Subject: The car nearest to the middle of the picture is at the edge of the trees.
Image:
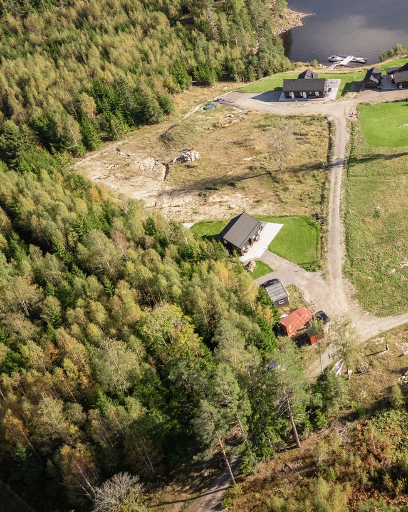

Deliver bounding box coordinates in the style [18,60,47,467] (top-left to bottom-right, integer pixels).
[260,275,282,288]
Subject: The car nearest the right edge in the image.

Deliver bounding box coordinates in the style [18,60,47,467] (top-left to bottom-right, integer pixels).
[315,306,328,324]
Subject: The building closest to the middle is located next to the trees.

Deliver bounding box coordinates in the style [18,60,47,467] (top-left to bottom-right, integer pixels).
[207,211,283,263]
